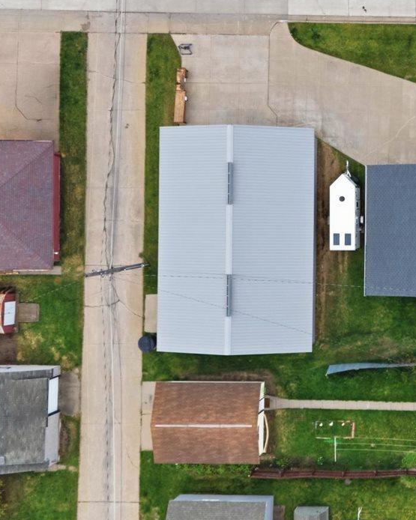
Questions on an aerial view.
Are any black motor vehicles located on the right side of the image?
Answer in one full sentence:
No, no black motor vehicle can be made out on the right side of the image.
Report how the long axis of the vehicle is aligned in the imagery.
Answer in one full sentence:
In this picture, the vehicle lies from top to bottom.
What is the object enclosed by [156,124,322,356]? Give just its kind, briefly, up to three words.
barn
